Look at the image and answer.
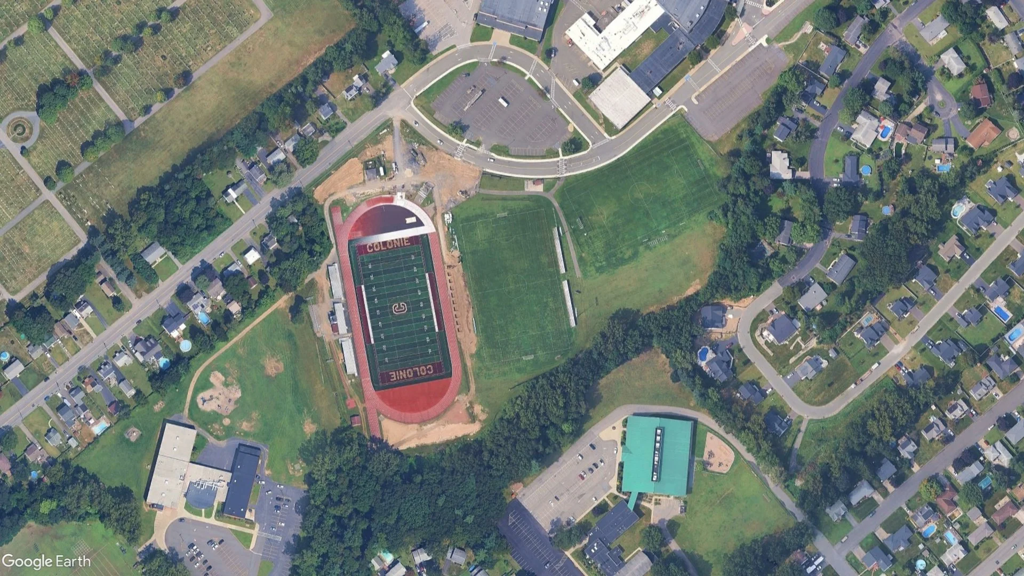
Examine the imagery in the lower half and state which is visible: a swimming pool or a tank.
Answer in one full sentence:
The feature located in the lower half is a swimming pool.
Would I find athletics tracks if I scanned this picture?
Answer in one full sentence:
Yes, an athletics track appears in the view.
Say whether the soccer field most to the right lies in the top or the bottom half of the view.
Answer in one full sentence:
It is in the top half that the soccer field most to the right appears.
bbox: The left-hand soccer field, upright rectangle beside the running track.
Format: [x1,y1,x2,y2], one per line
[460,208,570,365]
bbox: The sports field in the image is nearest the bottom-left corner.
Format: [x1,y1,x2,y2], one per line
[349,234,452,391]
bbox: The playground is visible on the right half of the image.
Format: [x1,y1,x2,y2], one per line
[703,431,734,473]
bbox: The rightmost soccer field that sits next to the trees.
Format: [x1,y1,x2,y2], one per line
[564,127,716,259]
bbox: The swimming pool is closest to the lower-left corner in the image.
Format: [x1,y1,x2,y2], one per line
[88,416,112,439]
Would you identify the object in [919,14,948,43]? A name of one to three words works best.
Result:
house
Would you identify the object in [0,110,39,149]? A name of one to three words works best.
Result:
roundabout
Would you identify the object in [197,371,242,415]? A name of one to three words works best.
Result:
playground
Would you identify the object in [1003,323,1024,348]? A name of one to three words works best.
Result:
swimming pool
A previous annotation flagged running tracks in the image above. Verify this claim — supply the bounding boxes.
[331,193,461,446]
